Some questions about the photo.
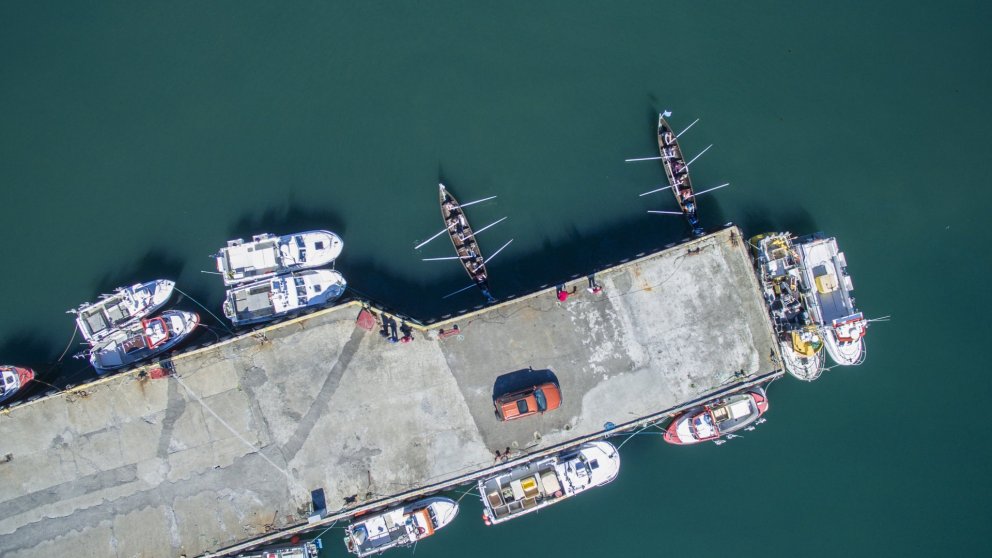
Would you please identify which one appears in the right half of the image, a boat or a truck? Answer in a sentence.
Looking in the right half of the image, you will find a boat.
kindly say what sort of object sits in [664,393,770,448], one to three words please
boat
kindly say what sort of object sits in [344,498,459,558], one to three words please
boat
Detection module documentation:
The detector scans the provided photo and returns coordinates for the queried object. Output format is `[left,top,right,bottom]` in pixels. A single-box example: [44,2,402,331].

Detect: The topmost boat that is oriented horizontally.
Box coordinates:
[201,230,346,285]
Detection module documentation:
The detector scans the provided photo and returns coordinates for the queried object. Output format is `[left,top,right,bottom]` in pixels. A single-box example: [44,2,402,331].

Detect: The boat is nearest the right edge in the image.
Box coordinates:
[796,227,890,368]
